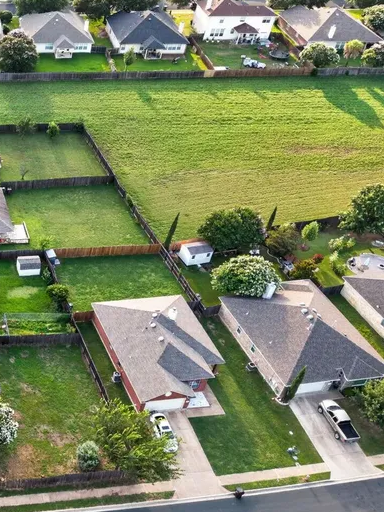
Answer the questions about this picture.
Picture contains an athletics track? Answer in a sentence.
No, the picture doesn't show any athletics track.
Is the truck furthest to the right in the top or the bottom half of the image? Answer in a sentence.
The truck furthest to the right sits in the bottom half of the picture.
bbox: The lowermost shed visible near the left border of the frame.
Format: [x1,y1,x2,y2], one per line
[16,254,43,277]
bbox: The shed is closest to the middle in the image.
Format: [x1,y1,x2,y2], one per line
[178,240,215,266]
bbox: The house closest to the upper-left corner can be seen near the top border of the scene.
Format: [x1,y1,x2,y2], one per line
[25,10,93,58]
